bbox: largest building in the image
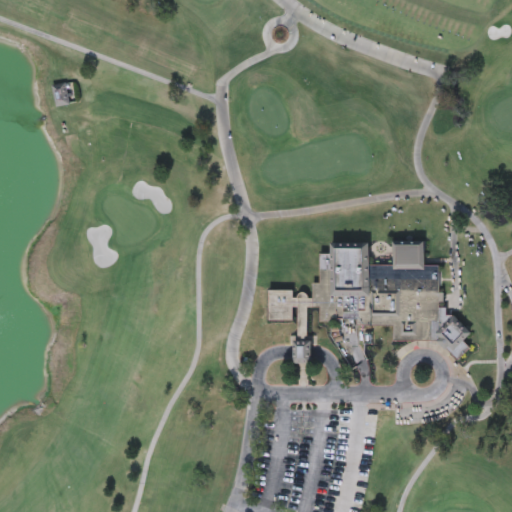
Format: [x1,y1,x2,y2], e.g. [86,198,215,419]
[268,242,470,364]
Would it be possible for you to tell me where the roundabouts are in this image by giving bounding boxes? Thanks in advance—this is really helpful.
[263,12,299,52]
